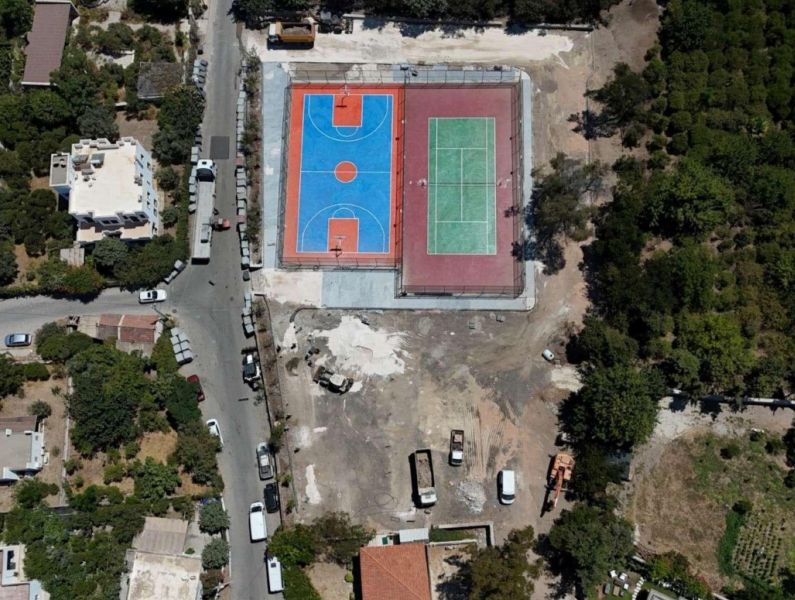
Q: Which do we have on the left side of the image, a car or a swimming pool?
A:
car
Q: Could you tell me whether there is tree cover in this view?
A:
Yes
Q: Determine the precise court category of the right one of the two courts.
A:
tennis court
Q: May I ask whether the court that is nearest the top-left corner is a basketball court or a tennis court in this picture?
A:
basketball court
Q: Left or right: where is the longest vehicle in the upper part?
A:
left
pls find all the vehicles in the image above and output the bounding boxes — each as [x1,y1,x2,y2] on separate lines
[193,374,207,404]
[248,501,267,542]
[140,289,168,303]
[5,335,33,348]
[263,482,280,513]
[212,217,229,229]
[414,447,439,508]
[206,418,227,449]
[263,553,283,596]
[267,23,316,45]
[498,470,515,505]
[256,442,275,481]
[450,429,464,466]
[540,453,581,516]
[313,366,351,394]
[241,349,262,387]
[193,156,214,262]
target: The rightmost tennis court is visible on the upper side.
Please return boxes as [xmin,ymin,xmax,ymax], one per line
[402,82,524,292]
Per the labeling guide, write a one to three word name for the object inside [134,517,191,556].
building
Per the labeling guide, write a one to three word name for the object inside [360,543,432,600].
house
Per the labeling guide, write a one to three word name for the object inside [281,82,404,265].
basketball court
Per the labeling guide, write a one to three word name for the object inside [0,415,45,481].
house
